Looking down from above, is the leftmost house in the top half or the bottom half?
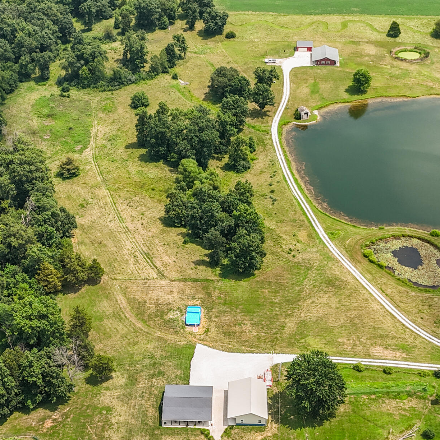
bottom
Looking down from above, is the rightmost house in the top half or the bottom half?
top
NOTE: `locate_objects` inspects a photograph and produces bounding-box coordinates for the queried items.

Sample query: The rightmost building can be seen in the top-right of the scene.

[313,44,340,66]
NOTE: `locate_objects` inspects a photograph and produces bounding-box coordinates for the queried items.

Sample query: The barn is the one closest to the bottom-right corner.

[226,377,267,426]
